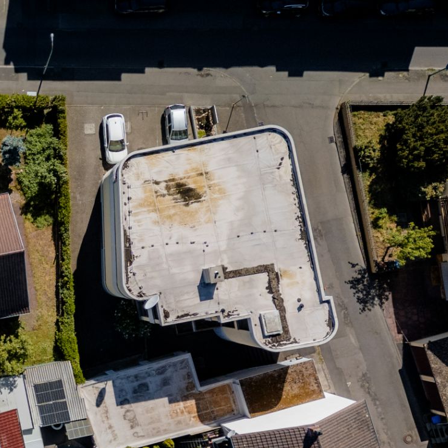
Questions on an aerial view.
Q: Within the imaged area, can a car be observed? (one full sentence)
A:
Yes, a car is visible in the scene.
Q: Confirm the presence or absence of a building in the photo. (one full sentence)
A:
Yes, this view includes a building.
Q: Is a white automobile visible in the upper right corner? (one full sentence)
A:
No, looking in the upper right corner, there is no white automobile.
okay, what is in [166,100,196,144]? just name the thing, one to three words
car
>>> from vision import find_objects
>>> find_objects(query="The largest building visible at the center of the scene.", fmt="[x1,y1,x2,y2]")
[100,125,338,351]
